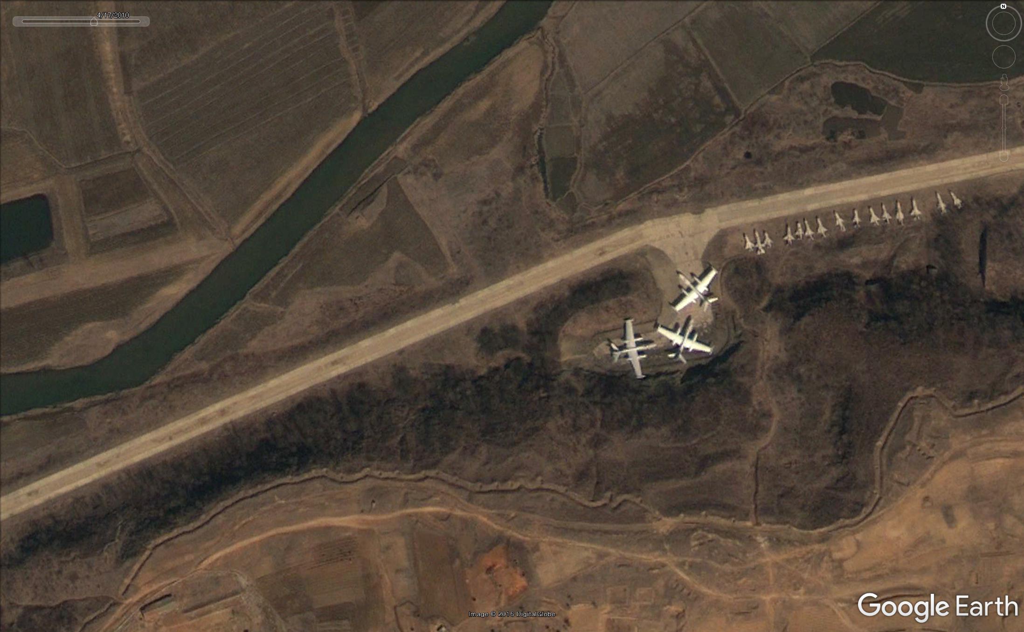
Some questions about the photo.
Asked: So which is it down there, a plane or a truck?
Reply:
plane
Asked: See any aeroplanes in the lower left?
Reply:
No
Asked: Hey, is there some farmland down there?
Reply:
Yes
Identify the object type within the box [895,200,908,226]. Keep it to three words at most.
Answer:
airplane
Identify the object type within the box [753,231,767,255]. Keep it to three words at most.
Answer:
airplane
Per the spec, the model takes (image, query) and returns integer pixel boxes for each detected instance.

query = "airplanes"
[895,200,908,226]
[805,219,816,241]
[835,211,848,232]
[818,218,829,238]
[746,235,754,252]
[852,209,862,228]
[673,266,721,316]
[937,192,948,214]
[610,318,658,379]
[882,204,892,224]
[655,317,714,364]
[870,206,881,226]
[951,191,962,209]
[753,231,767,255]
[910,199,923,221]
[796,222,805,240]
[765,232,773,248]
[785,225,796,246]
